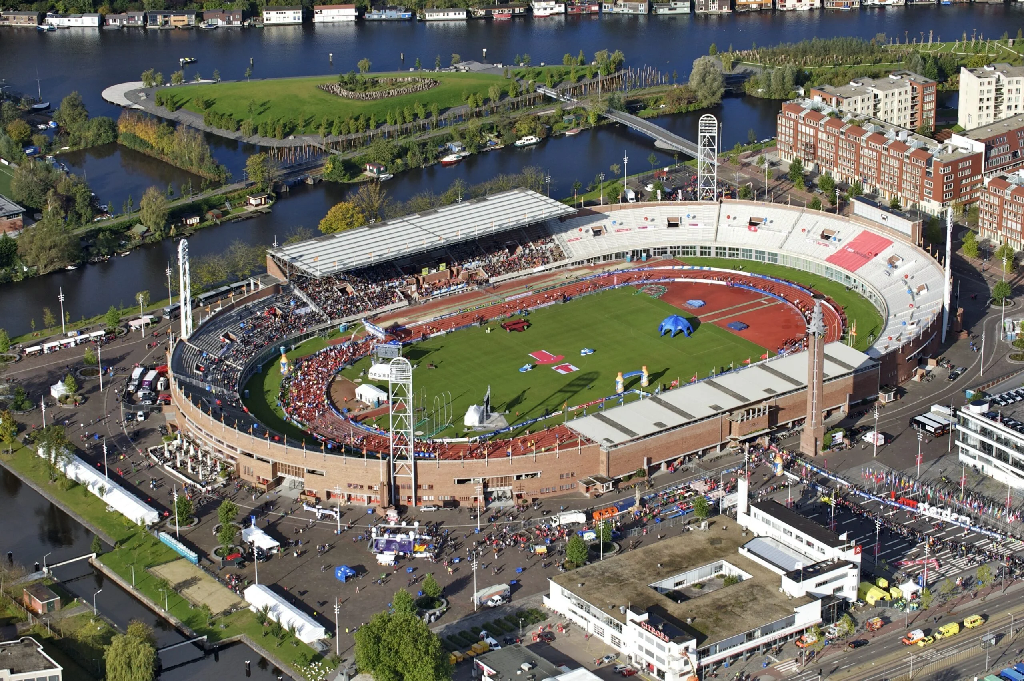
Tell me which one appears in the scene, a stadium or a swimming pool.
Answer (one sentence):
This aerial view contains a stadium.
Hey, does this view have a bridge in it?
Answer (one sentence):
Yes, you can see a bridge in this photo.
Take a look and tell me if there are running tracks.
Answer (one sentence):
Yes, you can see a running track in this photo.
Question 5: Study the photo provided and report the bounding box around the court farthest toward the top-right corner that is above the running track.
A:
[634,162,707,199]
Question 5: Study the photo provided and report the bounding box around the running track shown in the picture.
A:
[293,269,838,454]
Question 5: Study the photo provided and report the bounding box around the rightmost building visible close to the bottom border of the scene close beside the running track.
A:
[548,478,862,681]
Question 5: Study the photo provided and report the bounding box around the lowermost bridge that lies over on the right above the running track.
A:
[599,109,723,165]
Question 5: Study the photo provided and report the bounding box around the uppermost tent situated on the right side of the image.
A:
[657,309,695,336]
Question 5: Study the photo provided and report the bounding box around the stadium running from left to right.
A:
[168,188,946,510]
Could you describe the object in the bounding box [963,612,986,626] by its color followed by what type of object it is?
yellow vehicle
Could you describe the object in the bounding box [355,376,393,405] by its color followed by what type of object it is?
white tent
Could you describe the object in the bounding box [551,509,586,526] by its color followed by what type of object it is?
white vehicle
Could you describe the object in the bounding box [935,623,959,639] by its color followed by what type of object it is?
yellow vehicle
